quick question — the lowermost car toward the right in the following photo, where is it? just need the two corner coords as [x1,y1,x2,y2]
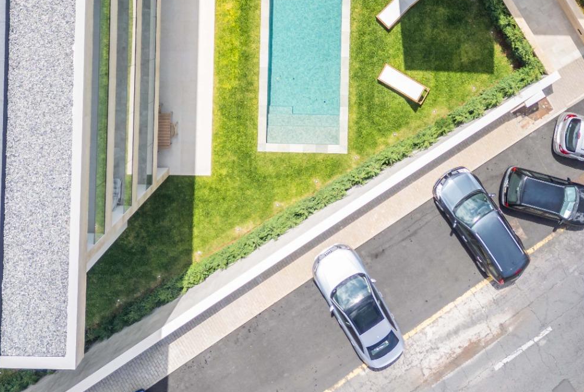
[313,239,405,371]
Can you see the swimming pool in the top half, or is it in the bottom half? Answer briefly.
top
